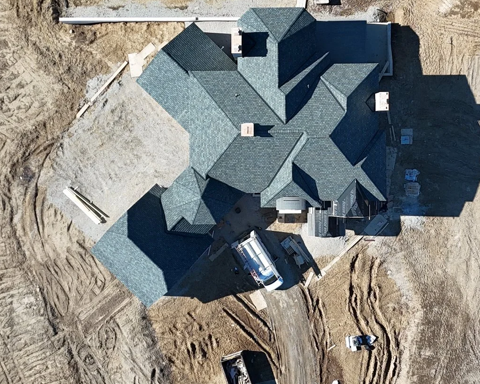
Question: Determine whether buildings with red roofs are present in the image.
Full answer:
No, I find no building with a red roof anywhere in the image.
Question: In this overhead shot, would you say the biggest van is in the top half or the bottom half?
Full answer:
The bottom half of the photo is where the biggest van is.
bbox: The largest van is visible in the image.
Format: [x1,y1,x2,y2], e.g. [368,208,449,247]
[230,226,282,289]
